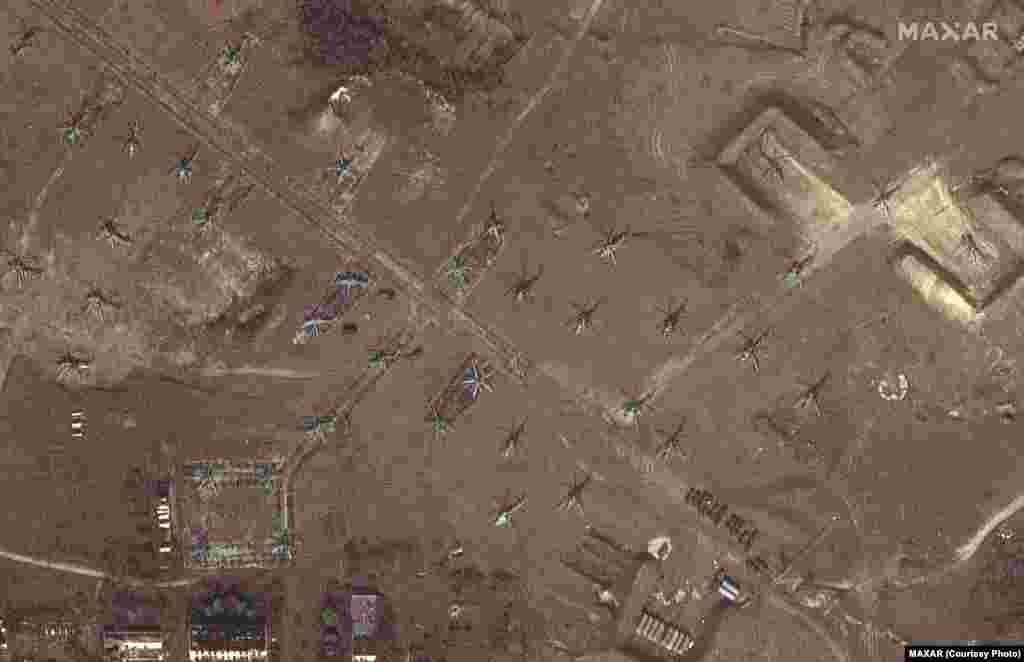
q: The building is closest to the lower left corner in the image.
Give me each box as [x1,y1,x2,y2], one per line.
[103,633,123,660]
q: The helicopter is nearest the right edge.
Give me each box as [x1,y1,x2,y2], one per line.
[958,228,988,261]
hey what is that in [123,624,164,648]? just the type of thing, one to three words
building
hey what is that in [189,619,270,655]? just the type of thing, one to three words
building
